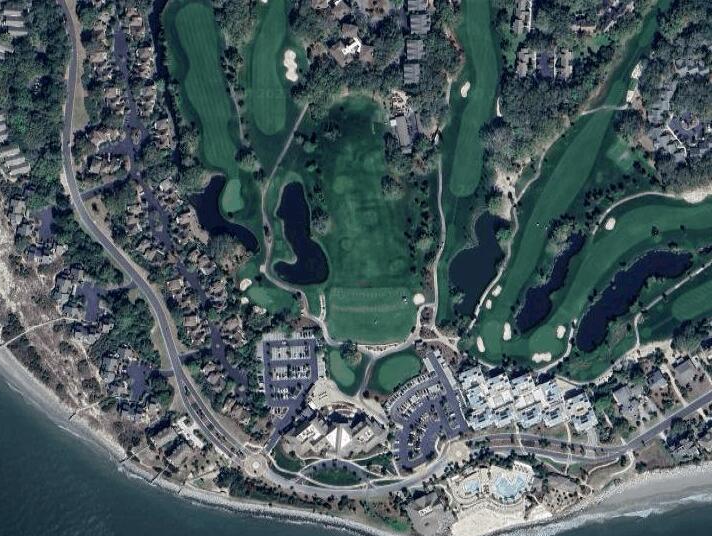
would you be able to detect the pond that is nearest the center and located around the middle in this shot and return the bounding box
[273,182,328,284]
